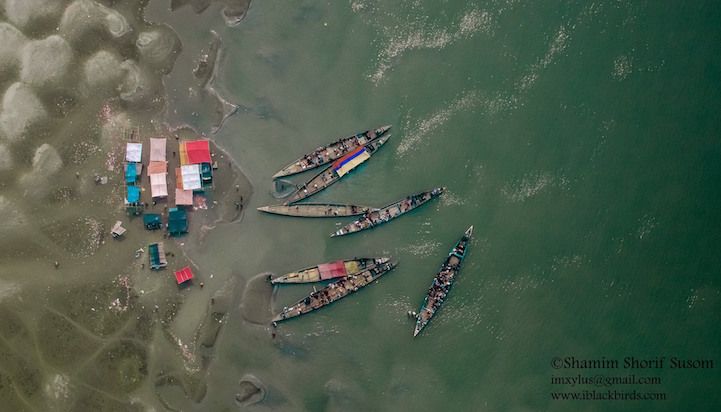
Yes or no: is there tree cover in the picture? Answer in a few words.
No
